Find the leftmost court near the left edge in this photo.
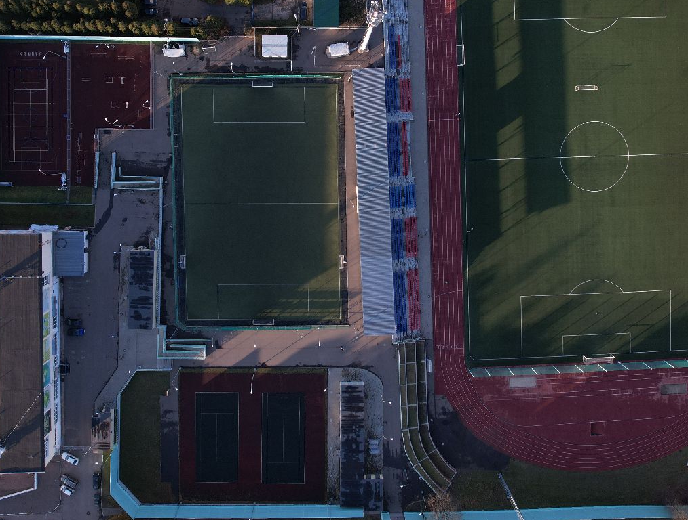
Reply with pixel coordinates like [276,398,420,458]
[0,44,67,187]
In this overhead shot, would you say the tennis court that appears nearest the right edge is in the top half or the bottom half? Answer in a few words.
bottom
